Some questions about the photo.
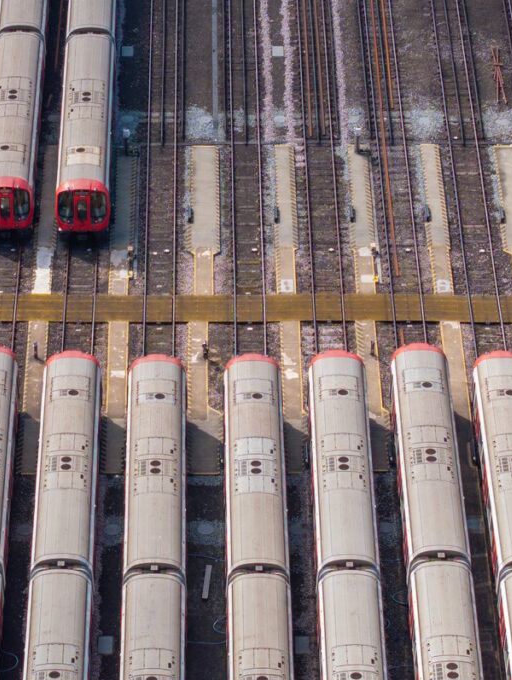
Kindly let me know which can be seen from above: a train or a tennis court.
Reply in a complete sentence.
Visible in the photo is a train.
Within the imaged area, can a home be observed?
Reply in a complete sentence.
No, there's no home here.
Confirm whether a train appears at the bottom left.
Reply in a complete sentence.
Yes, the scene does show a train at the bottom left.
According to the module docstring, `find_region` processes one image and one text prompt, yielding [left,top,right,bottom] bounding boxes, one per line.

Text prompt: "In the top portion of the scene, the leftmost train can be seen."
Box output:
[0,0,51,241]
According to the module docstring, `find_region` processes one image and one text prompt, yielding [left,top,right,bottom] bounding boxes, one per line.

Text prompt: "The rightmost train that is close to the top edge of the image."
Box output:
[55,0,119,244]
